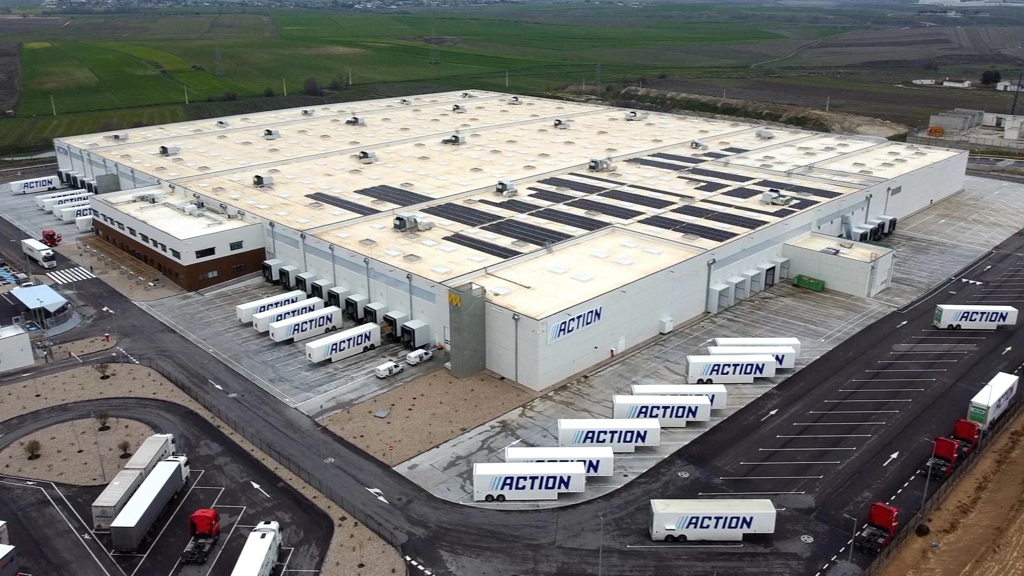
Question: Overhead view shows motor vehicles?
Yes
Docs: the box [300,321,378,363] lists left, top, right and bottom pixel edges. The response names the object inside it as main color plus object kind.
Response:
white trailer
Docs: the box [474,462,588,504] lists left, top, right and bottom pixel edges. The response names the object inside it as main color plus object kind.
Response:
white trailer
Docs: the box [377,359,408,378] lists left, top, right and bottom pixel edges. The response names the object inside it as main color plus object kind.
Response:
white vehicle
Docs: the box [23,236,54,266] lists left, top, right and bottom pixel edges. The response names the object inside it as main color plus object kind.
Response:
white truck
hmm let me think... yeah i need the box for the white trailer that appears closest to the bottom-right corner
[966,371,1021,432]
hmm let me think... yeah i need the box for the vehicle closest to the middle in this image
[408,346,437,364]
